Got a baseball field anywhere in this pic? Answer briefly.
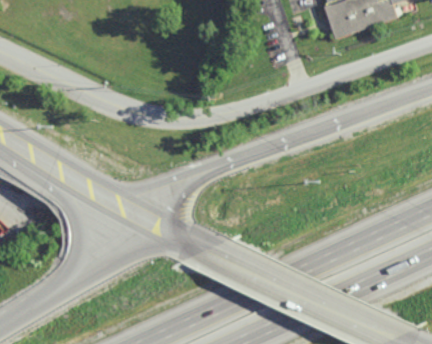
No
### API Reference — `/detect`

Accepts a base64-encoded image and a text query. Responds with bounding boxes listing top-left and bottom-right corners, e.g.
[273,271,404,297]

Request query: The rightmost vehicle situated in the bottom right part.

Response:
[385,256,421,276]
